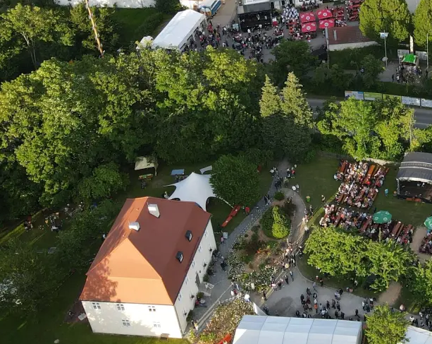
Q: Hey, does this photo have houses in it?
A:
Yes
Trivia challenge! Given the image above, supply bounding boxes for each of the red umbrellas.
[300,24,318,40]
[316,9,335,20]
[318,20,337,35]
[299,13,316,25]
